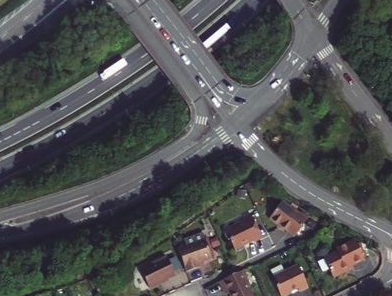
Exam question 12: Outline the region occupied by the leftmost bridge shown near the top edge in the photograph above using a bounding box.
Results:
[114,0,235,112]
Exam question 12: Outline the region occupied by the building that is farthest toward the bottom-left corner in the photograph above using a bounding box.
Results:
[140,250,178,286]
